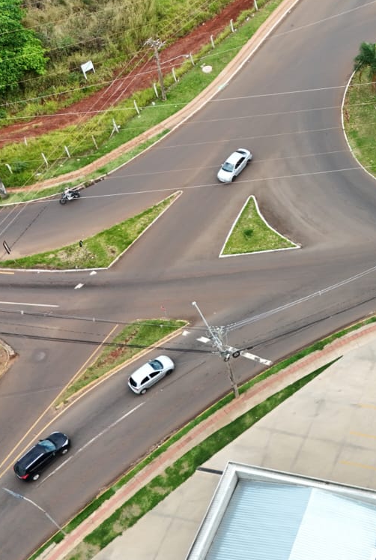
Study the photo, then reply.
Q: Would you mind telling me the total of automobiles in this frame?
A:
three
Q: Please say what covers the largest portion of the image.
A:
paved ground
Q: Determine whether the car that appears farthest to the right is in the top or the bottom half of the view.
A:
top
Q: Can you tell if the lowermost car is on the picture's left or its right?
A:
left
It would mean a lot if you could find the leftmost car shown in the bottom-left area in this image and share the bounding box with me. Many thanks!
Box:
[8,431,69,483]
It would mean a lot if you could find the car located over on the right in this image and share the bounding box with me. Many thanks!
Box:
[216,148,252,182]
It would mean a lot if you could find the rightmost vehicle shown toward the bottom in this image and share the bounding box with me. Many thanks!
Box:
[124,354,175,395]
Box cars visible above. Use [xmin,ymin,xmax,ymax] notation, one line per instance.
[124,354,175,395]
[8,431,69,483]
[216,148,252,182]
